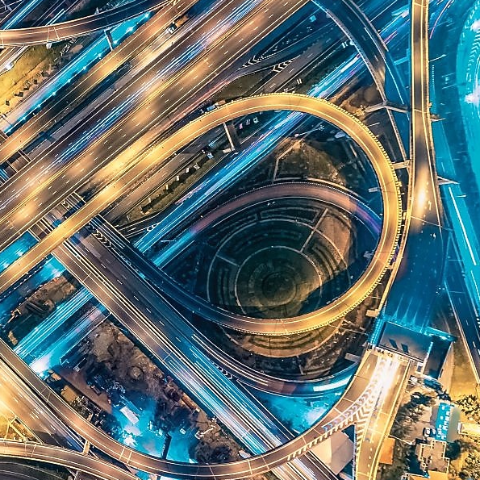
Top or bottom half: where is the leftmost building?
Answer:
bottom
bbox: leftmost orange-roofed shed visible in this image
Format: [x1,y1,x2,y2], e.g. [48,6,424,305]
[379,438,396,465]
